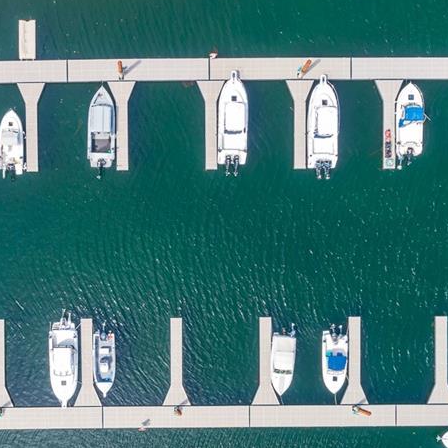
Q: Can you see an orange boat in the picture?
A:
No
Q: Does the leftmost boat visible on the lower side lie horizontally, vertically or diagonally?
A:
vertically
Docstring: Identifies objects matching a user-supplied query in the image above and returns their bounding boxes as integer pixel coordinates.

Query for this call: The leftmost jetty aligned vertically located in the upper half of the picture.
[17,84,46,172]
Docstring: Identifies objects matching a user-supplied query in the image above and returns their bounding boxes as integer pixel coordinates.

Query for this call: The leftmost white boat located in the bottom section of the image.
[47,310,79,407]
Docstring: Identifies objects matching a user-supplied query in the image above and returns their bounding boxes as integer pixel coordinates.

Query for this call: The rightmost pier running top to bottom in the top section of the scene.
[374,80,403,170]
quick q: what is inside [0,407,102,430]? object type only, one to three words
pier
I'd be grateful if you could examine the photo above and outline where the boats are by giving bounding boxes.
[0,109,24,183]
[396,82,437,169]
[321,316,349,395]
[93,320,115,394]
[307,74,339,183]
[88,85,116,178]
[217,71,248,177]
[270,319,297,397]
[47,310,79,407]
